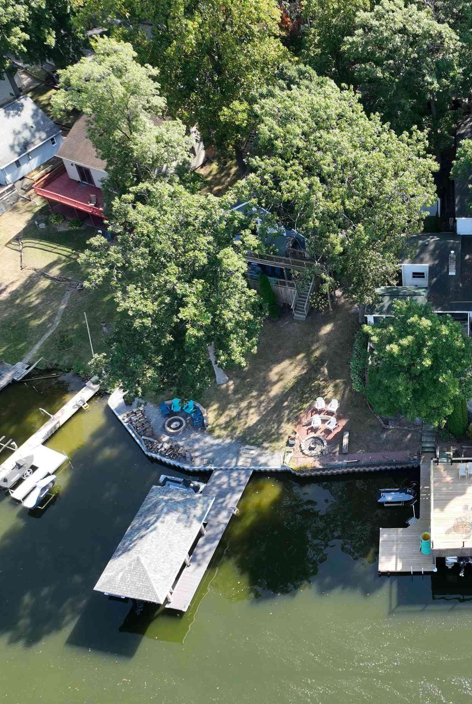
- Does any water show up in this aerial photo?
Yes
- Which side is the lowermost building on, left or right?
left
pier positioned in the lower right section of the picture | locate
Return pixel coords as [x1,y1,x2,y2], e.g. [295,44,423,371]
[378,457,439,578]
